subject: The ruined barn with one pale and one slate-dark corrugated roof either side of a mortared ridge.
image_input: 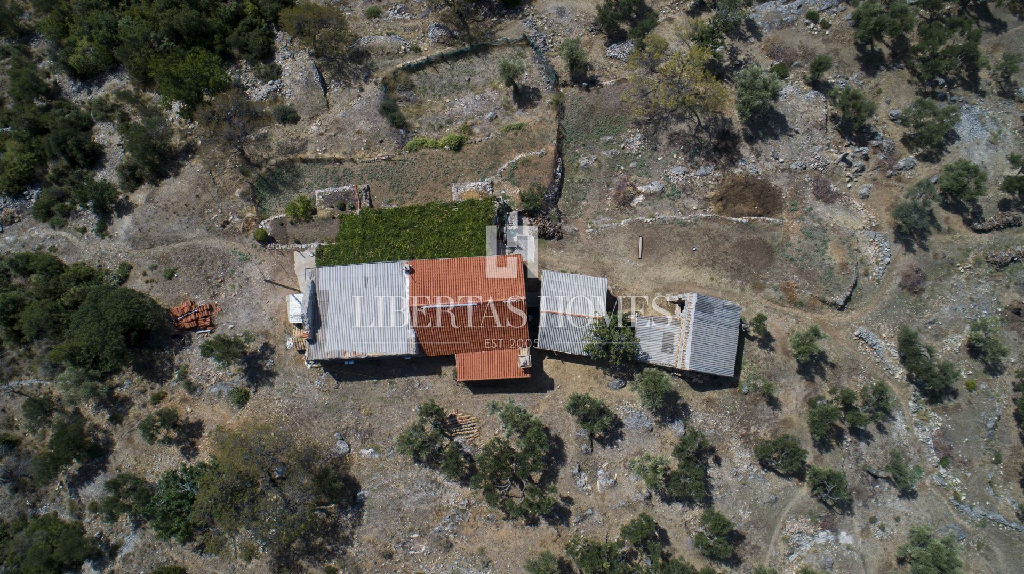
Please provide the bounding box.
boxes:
[628,293,742,377]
